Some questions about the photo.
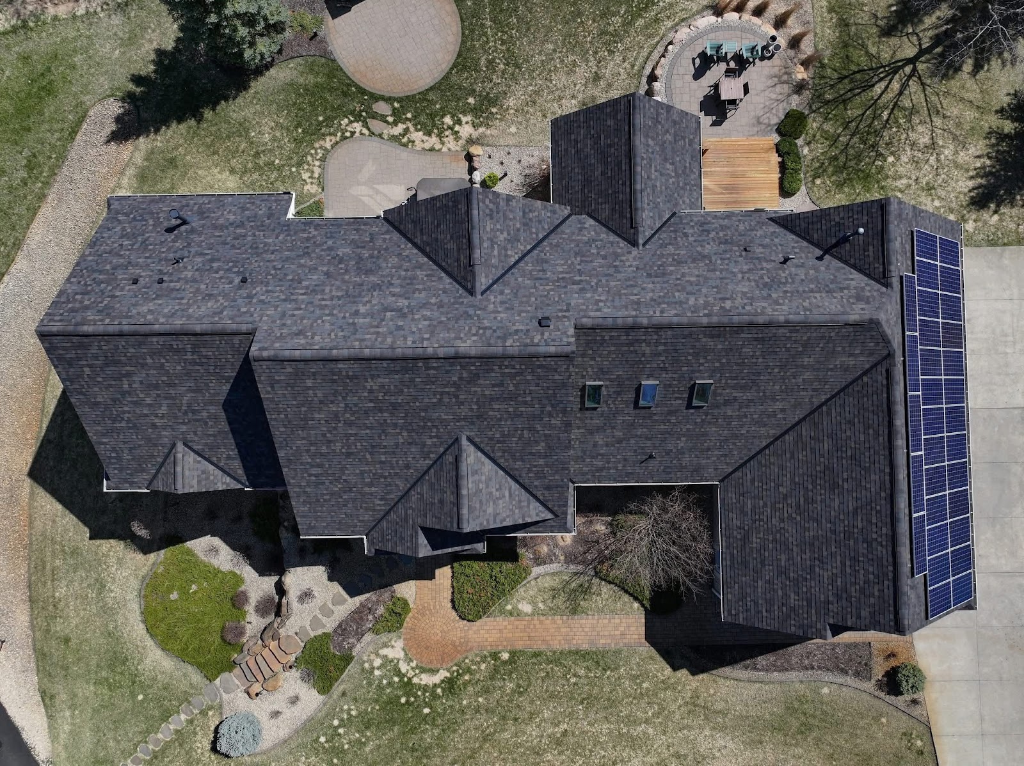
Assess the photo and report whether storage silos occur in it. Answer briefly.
No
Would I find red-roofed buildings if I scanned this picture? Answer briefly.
No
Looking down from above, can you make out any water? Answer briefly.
No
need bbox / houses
[37,92,979,639]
